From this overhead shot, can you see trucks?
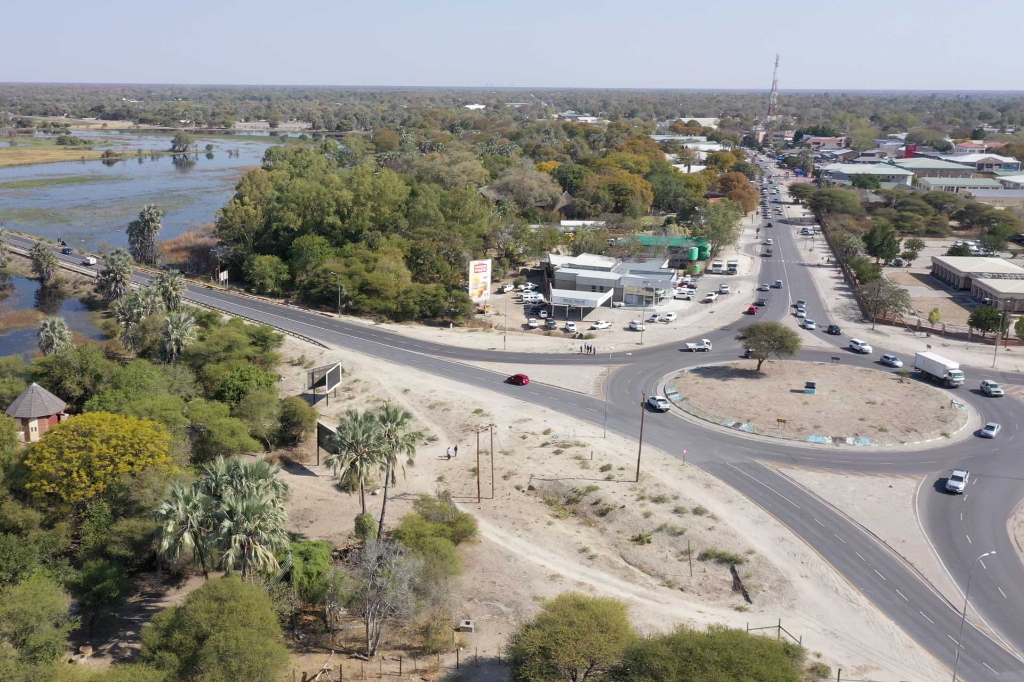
Yes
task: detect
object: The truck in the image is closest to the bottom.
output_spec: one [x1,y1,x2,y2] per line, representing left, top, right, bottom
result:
[946,468,970,494]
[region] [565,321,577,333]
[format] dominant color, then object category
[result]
white vehicle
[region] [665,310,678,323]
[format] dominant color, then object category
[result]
white vehicle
